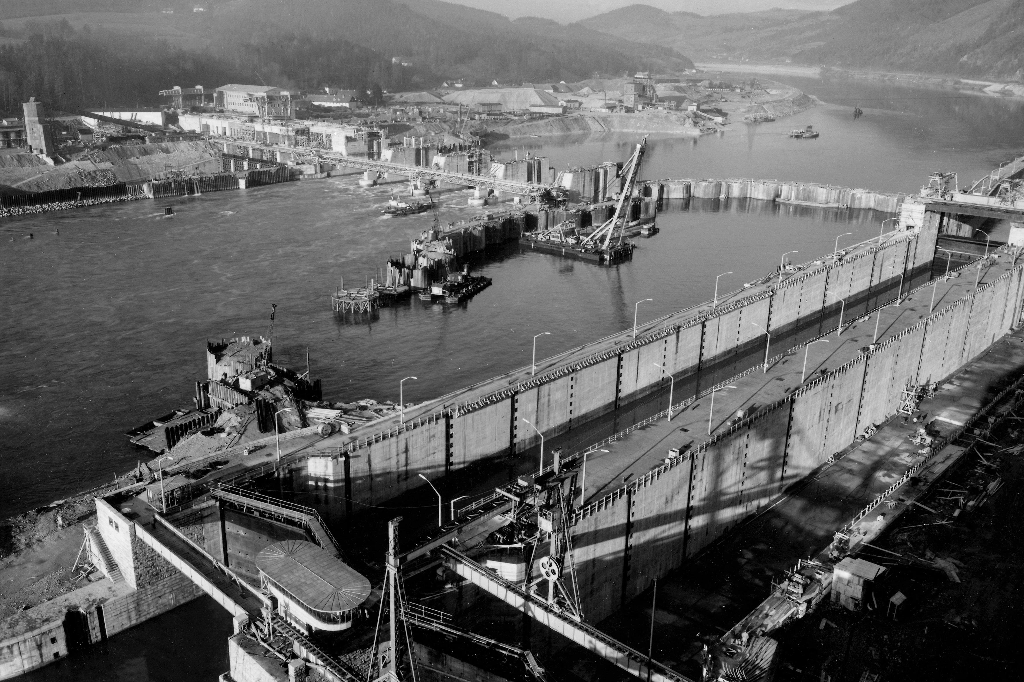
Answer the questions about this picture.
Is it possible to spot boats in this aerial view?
Yes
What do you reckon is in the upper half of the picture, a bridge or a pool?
bridge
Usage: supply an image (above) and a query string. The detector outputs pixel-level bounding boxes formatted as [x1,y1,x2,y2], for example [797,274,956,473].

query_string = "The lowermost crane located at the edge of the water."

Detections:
[361,442,614,682]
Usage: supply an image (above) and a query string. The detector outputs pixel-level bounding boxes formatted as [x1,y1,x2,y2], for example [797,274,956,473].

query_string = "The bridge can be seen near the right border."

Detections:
[925,202,1024,222]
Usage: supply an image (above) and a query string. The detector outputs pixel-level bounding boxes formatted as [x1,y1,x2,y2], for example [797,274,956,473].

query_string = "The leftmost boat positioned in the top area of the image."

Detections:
[383,188,448,214]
